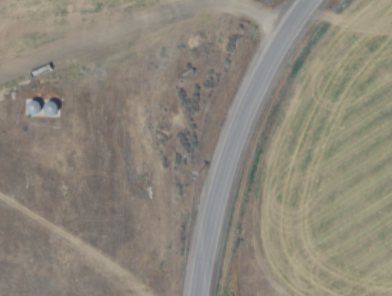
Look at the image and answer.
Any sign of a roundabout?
No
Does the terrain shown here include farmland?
Yes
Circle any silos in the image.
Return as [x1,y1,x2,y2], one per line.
[25,100,40,114]
[42,100,57,115]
